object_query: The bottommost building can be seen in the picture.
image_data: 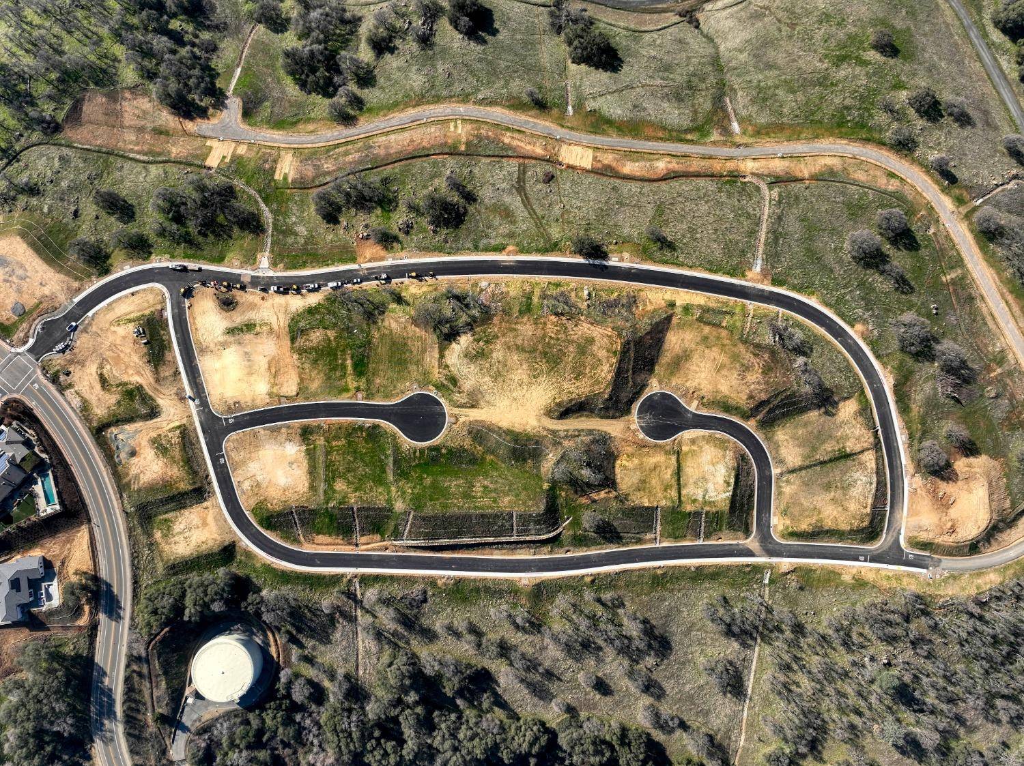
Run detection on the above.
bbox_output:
[0,556,46,623]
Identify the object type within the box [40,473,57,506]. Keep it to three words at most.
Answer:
swimming pool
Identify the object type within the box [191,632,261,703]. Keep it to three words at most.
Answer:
water tank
